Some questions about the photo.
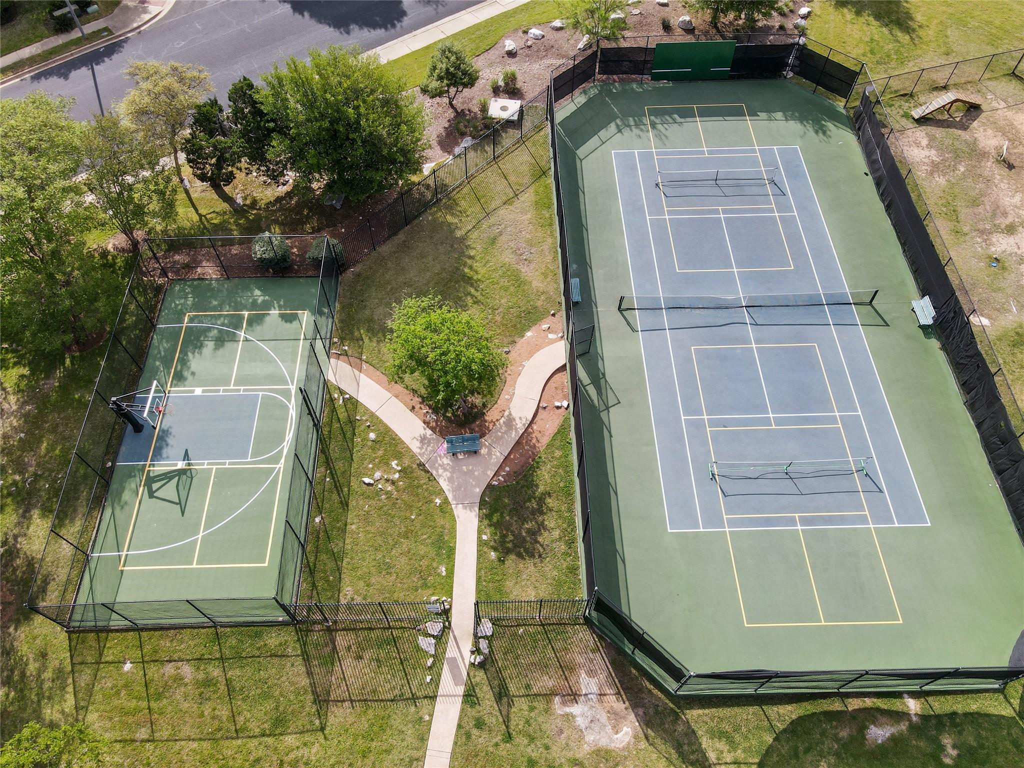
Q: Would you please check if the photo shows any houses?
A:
No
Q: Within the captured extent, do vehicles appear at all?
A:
No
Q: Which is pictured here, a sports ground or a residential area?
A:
sports ground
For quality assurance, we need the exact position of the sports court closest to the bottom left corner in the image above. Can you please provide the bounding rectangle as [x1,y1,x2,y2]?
[67,274,343,632]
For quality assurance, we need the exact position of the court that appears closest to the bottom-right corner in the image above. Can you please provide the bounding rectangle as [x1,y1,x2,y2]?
[545,77,1024,700]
